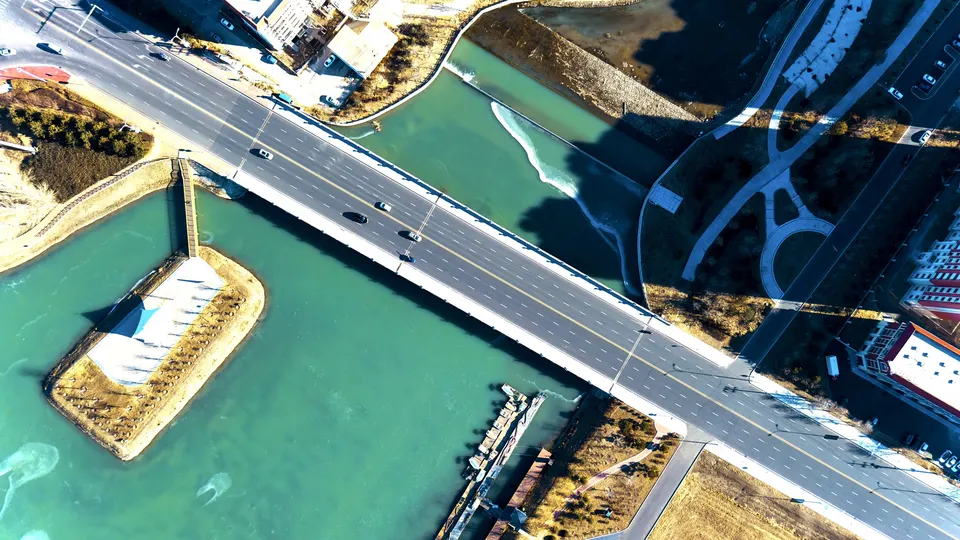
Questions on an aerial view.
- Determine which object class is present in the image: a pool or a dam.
dam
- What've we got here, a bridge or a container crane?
bridge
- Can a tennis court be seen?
No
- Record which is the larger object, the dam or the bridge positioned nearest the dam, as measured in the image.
the bridge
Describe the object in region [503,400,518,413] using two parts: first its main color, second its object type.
white boat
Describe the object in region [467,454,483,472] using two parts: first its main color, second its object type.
white boat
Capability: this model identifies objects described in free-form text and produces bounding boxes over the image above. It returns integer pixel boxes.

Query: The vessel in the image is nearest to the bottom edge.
[432,480,476,540]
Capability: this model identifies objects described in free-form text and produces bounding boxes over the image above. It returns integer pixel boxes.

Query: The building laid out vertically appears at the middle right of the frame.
[905,191,960,318]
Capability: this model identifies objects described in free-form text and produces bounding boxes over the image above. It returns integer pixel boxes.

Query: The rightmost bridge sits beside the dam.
[229,100,656,396]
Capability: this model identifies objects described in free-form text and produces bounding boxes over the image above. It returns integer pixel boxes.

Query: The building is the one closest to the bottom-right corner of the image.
[841,312,960,429]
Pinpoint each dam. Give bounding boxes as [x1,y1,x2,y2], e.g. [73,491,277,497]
[442,4,705,191]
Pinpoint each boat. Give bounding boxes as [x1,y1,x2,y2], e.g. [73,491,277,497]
[498,408,512,420]
[490,418,506,431]
[467,454,483,472]
[473,470,488,485]
[499,382,518,398]
[461,465,475,483]
[488,446,501,461]
[475,442,490,455]
[483,427,501,442]
[510,395,521,403]
[517,399,530,414]
[503,400,518,413]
